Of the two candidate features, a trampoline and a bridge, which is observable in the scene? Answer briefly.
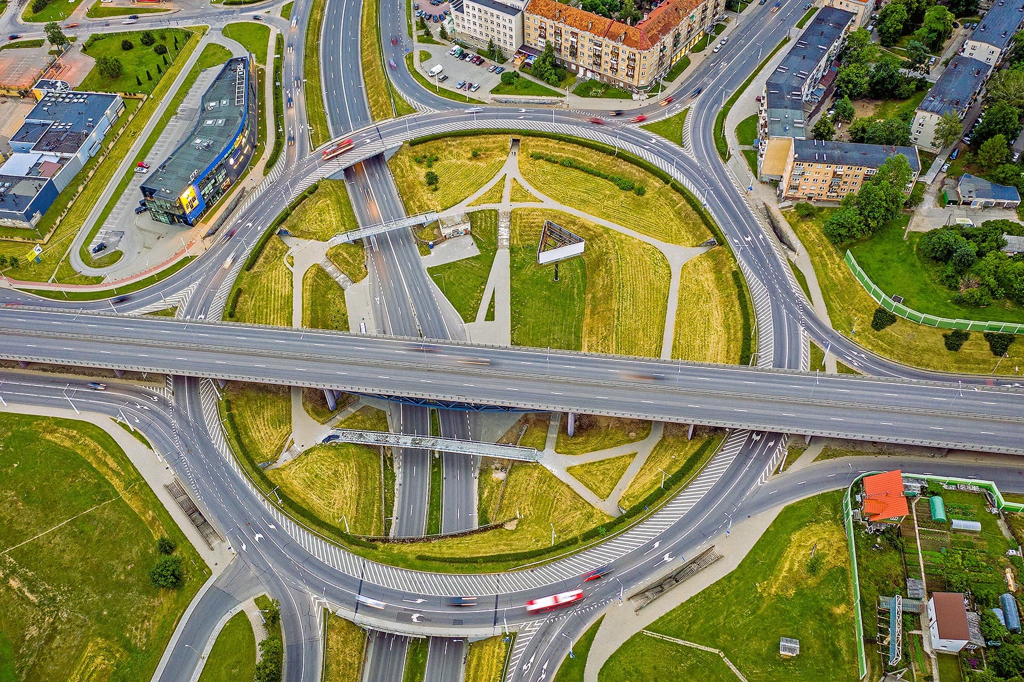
bridge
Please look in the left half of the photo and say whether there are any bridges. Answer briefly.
Yes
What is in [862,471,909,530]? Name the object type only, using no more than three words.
house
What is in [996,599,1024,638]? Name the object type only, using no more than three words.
greenhouse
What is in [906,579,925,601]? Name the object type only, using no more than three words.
shed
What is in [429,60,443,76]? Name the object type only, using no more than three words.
vehicle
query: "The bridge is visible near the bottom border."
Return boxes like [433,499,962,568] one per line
[330,604,506,682]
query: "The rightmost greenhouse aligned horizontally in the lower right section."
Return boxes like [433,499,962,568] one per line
[951,521,983,537]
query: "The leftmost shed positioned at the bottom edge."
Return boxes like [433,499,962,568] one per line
[781,638,799,659]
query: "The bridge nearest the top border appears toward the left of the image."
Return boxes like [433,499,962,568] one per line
[283,102,417,207]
